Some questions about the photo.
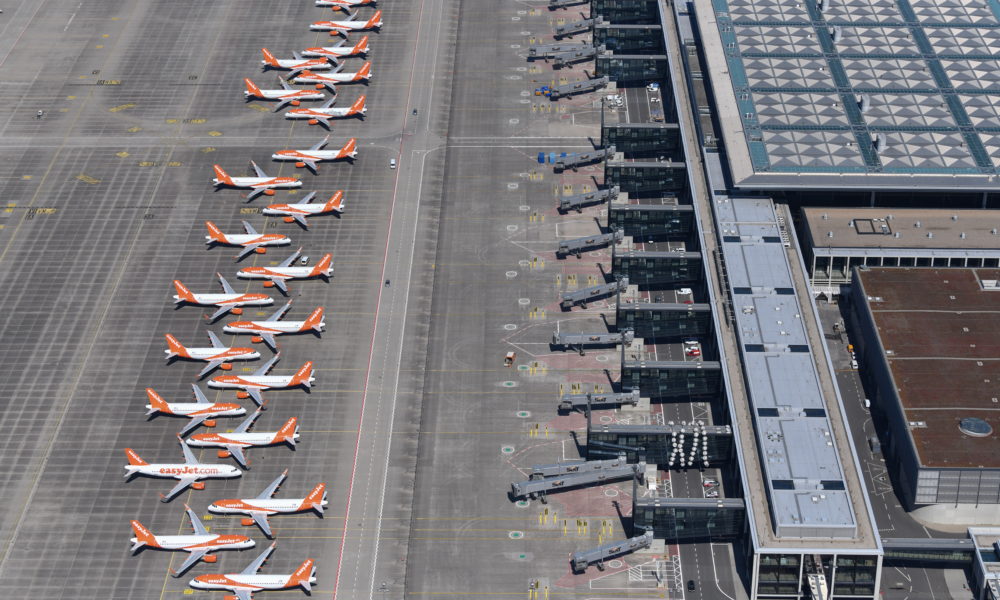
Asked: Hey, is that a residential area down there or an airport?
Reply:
airport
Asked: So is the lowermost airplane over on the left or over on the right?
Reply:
left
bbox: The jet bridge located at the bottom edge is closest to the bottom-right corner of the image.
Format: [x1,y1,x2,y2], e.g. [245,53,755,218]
[567,527,657,578]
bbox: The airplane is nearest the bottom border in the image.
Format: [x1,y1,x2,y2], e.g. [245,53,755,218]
[189,541,315,600]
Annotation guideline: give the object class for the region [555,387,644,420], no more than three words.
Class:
jet bridge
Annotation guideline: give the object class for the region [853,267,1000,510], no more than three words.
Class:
building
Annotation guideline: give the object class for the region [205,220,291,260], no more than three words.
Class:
airplane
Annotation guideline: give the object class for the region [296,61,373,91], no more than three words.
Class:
airplane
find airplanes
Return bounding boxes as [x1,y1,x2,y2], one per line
[315,0,379,15]
[131,504,255,577]
[302,36,369,64]
[296,61,373,91]
[189,541,315,600]
[271,135,357,171]
[205,220,291,260]
[213,160,302,199]
[164,329,261,379]
[237,247,334,293]
[173,273,273,321]
[263,190,345,228]
[285,94,367,127]
[244,77,325,109]
[208,352,314,407]
[262,48,331,77]
[311,10,383,37]
[209,470,327,537]
[124,437,242,501]
[189,407,302,467]
[146,382,246,437]
[223,299,324,350]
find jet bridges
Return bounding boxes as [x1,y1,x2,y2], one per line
[567,527,657,578]
[526,451,631,483]
[555,387,644,420]
[555,275,633,313]
[546,73,611,105]
[505,458,649,506]
[550,13,604,42]
[549,144,619,176]
[555,183,623,217]
[549,41,607,70]
[552,227,628,260]
[545,328,638,358]
[523,40,595,64]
